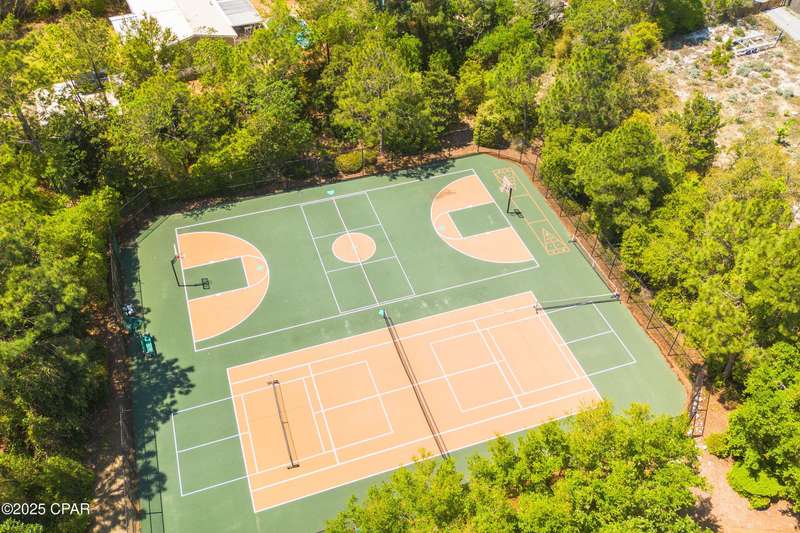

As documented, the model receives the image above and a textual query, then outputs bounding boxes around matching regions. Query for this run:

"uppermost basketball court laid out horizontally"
[177,169,540,351]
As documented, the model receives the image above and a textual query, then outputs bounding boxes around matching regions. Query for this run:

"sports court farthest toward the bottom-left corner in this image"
[172,360,394,496]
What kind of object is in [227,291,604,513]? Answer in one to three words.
tennis court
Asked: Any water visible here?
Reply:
No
